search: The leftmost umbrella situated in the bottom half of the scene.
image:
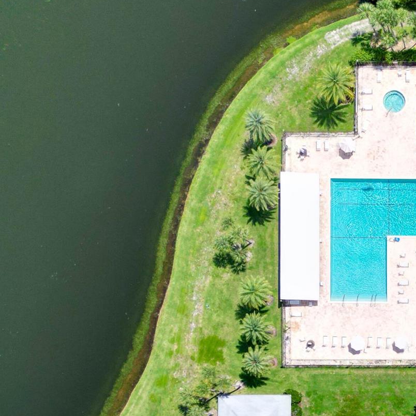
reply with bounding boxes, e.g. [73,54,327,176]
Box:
[350,335,366,352]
